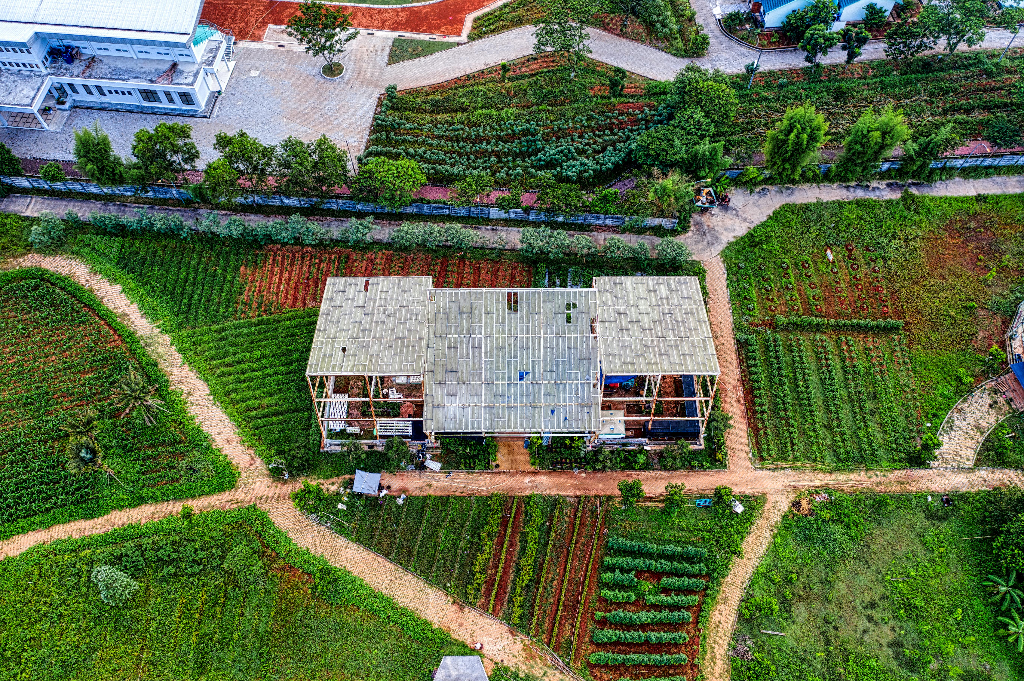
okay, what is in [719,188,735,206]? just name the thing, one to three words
work vehicle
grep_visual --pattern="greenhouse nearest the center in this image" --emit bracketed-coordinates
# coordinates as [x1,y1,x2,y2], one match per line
[304,275,721,453]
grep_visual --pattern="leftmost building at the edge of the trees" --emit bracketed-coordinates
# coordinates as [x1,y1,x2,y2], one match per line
[0,0,240,133]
